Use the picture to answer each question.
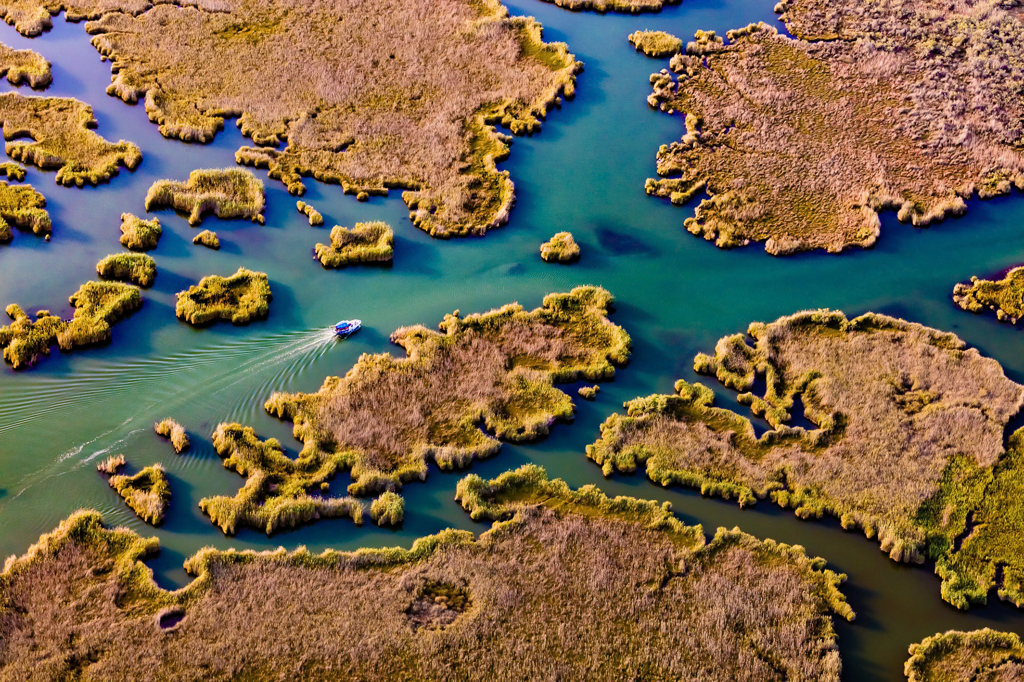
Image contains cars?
No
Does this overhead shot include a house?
No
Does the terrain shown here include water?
Yes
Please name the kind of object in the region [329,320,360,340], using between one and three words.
boat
